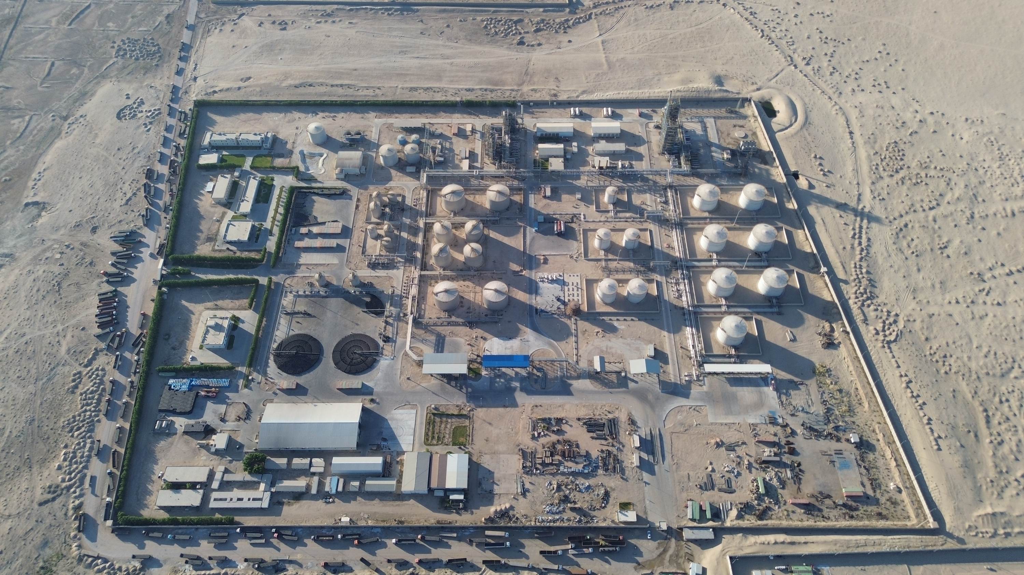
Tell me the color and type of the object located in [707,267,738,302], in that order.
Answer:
white storage tank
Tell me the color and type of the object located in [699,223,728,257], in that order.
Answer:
white storage tank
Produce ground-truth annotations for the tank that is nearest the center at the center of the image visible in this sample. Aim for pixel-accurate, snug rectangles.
[482,280,510,316]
